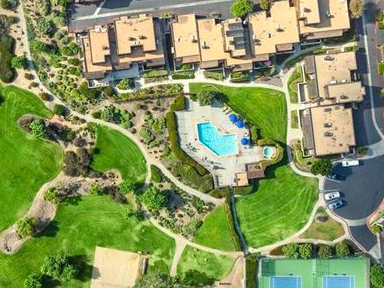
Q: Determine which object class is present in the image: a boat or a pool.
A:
pool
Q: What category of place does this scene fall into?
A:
residential area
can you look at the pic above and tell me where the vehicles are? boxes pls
[329,199,344,208]
[324,191,338,199]
[327,173,342,180]
[341,160,360,167]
